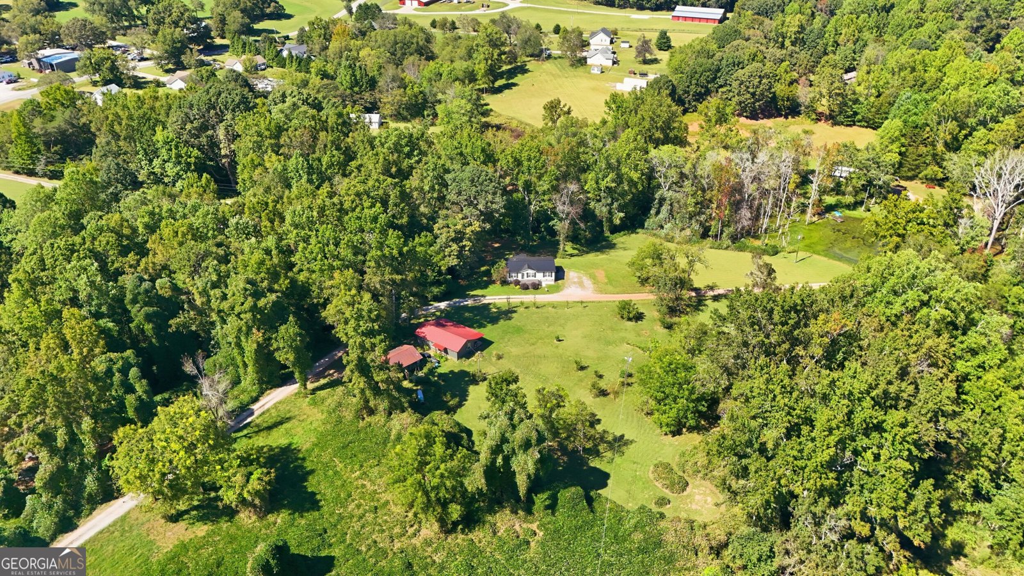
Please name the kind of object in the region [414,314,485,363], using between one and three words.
house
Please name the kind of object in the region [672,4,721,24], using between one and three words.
barn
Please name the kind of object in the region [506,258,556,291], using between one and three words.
house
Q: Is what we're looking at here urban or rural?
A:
rural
